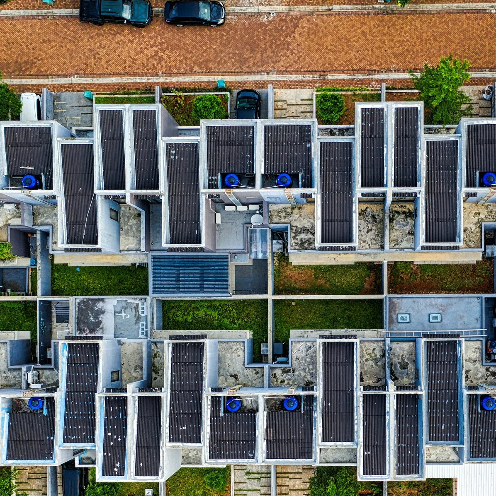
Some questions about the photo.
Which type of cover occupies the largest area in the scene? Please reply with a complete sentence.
The bulk of the photo consists of buildings.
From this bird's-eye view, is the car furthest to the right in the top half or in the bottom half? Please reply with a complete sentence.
The top half of the photo is where the car furthest to the right is.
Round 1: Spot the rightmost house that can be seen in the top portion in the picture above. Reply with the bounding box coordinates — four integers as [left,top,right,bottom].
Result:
[388,100,496,261]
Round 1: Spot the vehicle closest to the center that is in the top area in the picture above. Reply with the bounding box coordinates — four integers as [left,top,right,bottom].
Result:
[233,91,260,118]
